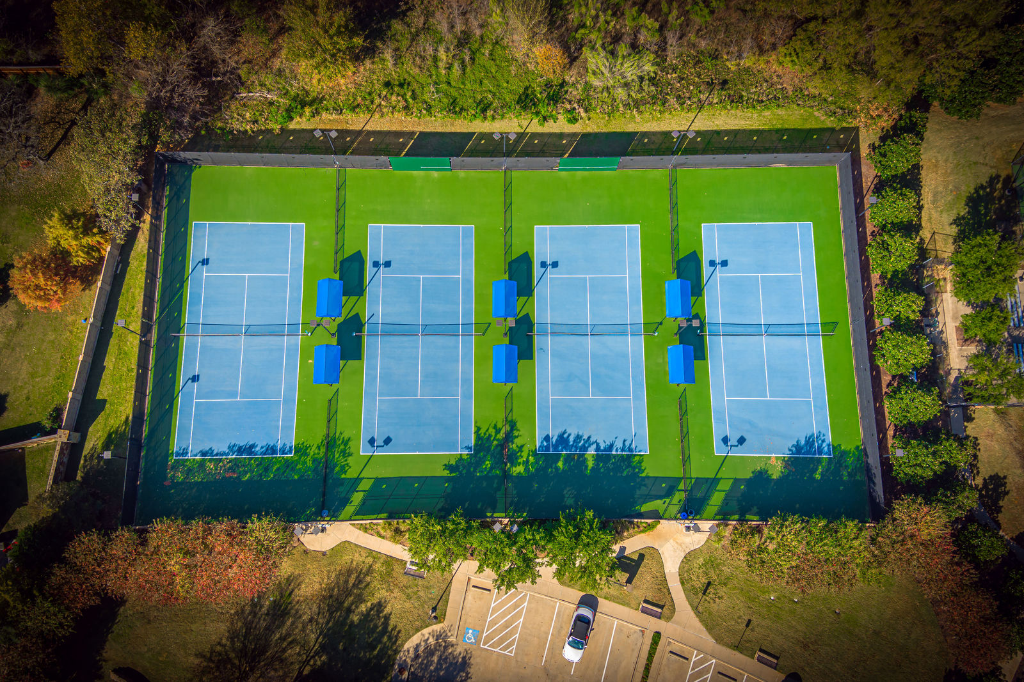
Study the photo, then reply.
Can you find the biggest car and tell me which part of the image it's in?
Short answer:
bottom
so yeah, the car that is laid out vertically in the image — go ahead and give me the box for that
[566,604,596,662]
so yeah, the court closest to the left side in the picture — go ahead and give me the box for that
[134,165,339,525]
